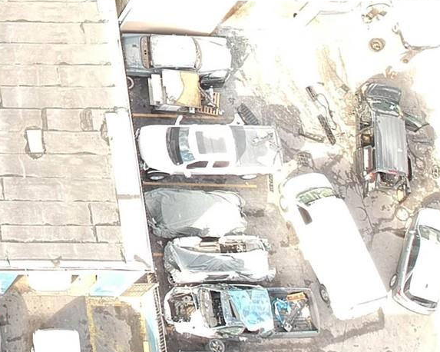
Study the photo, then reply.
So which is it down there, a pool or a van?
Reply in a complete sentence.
It is a van that can be seen here.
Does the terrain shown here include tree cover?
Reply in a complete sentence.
No, no tree cover is visible.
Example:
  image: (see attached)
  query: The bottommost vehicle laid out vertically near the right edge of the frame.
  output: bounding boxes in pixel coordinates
[391,207,440,317]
